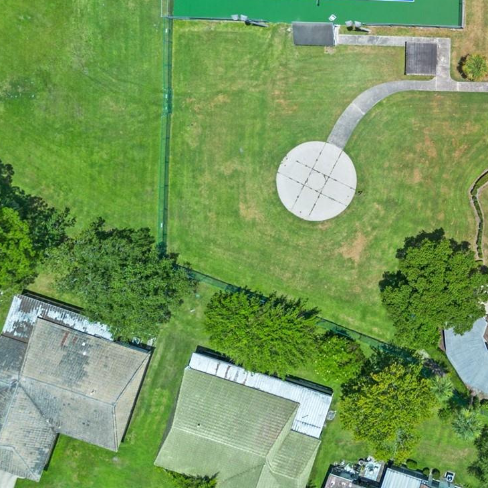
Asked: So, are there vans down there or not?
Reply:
No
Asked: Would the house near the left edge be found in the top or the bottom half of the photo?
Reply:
bottom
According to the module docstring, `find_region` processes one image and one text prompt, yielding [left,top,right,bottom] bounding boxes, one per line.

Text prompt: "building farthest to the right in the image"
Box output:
[444,312,488,393]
